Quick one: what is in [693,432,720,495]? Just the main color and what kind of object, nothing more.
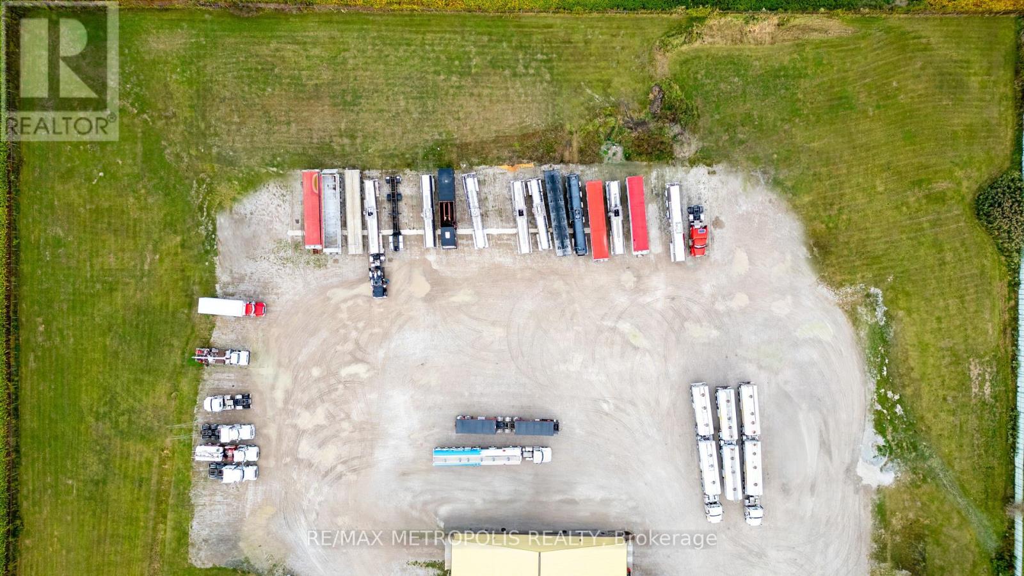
white trailer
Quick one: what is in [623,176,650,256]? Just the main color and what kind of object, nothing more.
red trailer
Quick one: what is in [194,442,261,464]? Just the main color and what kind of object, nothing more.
white truck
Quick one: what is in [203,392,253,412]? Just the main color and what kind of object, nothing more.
white vehicle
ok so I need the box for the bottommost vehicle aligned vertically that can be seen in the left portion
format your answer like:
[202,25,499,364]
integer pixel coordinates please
[369,253,388,298]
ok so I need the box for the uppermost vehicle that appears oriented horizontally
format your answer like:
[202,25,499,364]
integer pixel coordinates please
[197,298,266,319]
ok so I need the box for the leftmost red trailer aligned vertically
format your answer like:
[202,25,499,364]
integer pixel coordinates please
[302,170,323,250]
